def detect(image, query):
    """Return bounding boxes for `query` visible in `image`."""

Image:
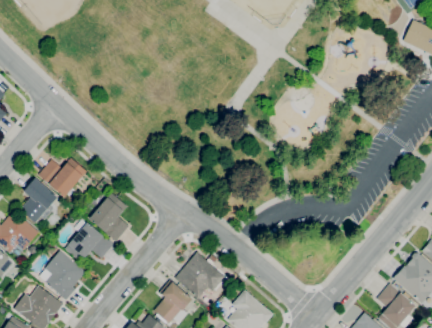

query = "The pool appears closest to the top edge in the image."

[58,223,74,245]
